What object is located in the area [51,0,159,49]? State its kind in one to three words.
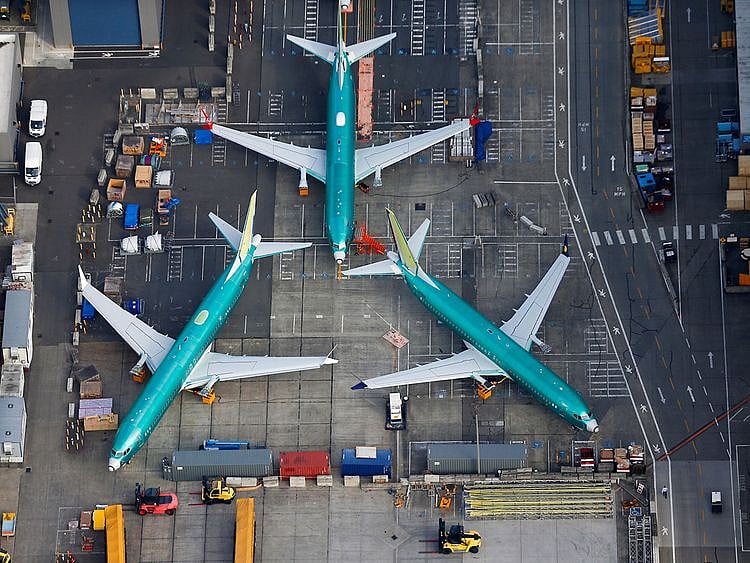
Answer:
hangar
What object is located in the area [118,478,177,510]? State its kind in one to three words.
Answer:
work vehicle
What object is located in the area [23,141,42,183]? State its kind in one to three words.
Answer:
vehicle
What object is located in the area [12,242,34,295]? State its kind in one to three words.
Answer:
trailer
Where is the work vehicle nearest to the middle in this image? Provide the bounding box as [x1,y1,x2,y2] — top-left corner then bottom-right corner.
[385,397,406,432]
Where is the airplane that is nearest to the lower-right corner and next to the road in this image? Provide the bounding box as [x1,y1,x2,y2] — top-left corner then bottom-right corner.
[344,209,599,432]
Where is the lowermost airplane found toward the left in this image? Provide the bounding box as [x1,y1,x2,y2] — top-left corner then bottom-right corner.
[77,191,338,470]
